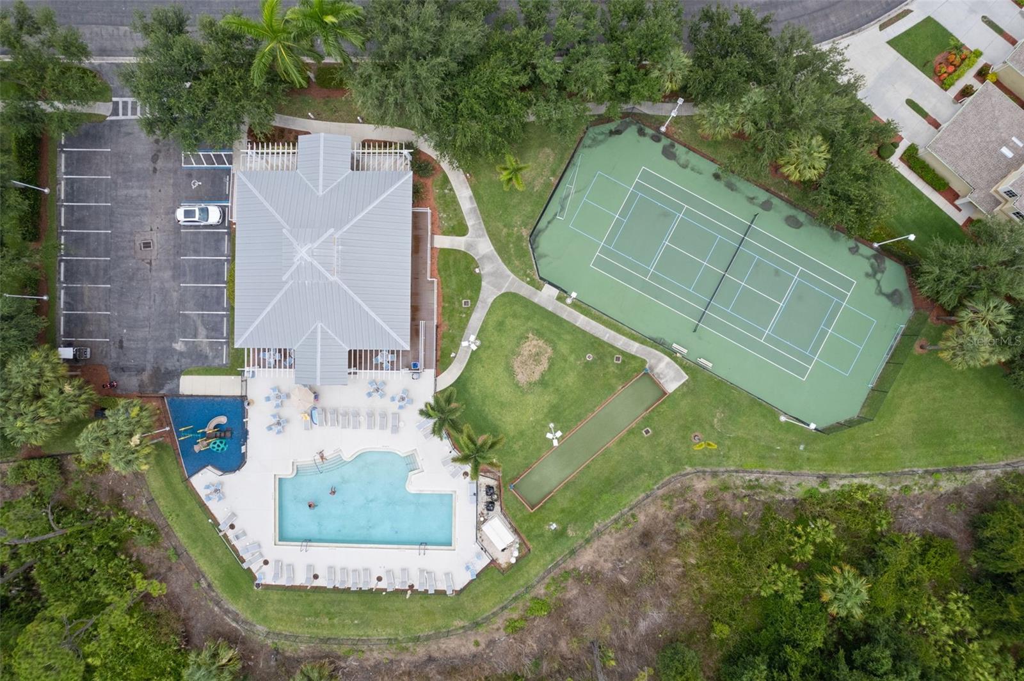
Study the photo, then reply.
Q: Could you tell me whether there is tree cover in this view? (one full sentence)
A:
Yes, there's tree cover in this view.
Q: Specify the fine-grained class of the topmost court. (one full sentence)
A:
In the photo, the topmost court shows up as a tennis court.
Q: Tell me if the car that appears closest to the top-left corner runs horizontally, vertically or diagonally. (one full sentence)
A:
What the image shows is the car that appears closest to the top-left corner lying horizontally.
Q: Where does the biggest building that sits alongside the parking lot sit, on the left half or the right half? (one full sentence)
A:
You can find the biggest building that sits alongside the parking lot on the left side of the picture.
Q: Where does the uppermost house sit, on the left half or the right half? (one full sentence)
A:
The uppermost house is on the right side of the image.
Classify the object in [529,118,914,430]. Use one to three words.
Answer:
tennis court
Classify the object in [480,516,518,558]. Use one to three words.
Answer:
shed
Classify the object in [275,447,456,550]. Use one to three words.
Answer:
swimming pool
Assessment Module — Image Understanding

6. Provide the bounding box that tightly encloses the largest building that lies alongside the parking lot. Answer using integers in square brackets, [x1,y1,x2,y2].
[233,132,414,385]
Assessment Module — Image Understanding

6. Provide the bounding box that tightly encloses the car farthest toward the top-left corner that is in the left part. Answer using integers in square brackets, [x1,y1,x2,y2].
[174,204,226,227]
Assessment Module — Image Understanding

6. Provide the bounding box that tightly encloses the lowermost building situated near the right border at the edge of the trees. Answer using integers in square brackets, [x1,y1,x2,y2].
[917,79,1024,253]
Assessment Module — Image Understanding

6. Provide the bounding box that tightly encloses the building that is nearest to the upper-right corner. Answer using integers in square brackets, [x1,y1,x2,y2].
[990,34,1024,102]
